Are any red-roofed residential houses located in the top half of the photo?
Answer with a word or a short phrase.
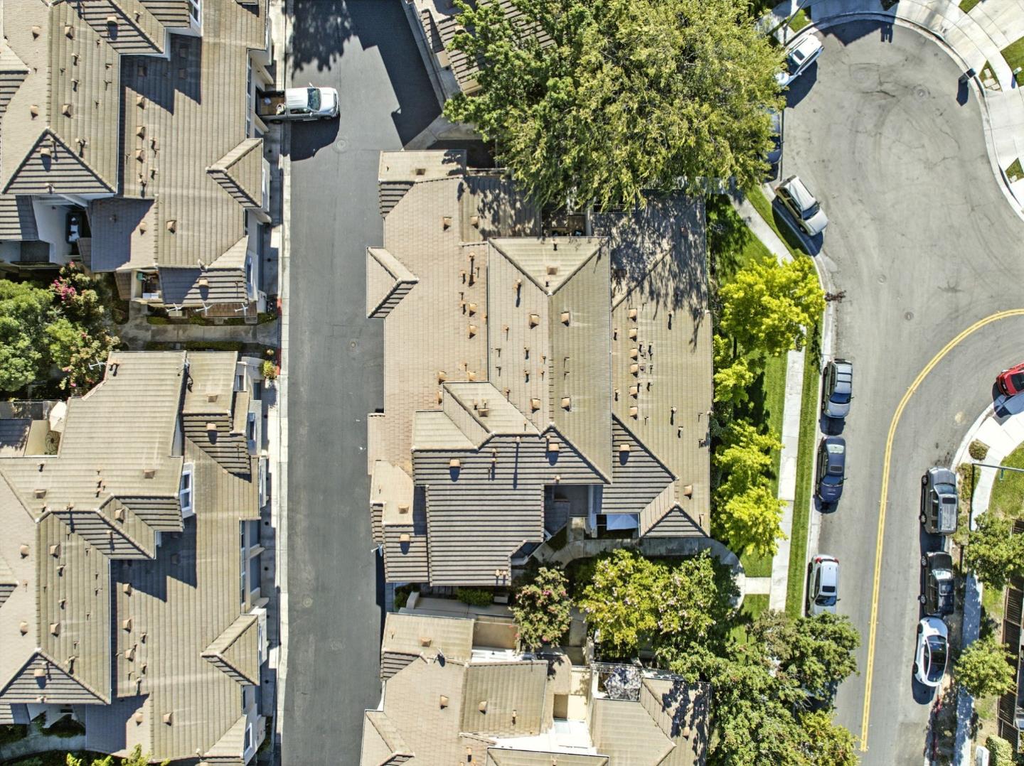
No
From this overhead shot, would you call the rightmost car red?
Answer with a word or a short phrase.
Yes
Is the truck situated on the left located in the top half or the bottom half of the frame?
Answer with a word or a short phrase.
top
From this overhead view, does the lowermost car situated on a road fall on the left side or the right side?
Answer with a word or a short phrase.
right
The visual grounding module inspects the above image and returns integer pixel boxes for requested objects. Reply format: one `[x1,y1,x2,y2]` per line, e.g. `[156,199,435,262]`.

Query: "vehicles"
[765,173,821,235]
[908,616,945,684]
[996,358,1024,392]
[914,550,952,612]
[780,36,825,93]
[819,358,853,419]
[813,435,847,501]
[804,553,838,612]
[262,85,340,121]
[916,467,954,533]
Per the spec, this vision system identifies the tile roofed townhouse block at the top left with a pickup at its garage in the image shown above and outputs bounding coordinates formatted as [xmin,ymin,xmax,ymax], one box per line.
[0,0,282,318]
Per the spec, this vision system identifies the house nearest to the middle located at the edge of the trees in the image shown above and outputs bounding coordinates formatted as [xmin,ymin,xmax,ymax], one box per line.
[365,148,713,587]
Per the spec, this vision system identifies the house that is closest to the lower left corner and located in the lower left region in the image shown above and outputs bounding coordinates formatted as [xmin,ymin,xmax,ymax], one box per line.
[0,350,277,766]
